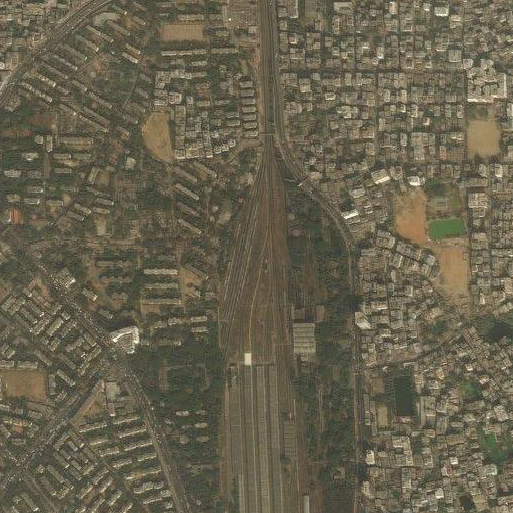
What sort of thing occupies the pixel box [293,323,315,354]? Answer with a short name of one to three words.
building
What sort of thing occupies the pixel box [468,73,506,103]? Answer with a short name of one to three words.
building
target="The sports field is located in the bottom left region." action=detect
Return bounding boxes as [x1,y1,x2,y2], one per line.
[4,370,47,402]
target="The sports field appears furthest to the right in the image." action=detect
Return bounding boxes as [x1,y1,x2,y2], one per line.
[467,119,501,157]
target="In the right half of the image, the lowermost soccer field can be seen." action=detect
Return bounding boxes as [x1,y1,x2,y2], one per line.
[428,217,467,240]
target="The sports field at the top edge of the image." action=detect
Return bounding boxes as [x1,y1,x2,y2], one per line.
[162,25,205,42]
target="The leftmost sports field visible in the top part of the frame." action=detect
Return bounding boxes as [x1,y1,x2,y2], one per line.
[141,111,174,163]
